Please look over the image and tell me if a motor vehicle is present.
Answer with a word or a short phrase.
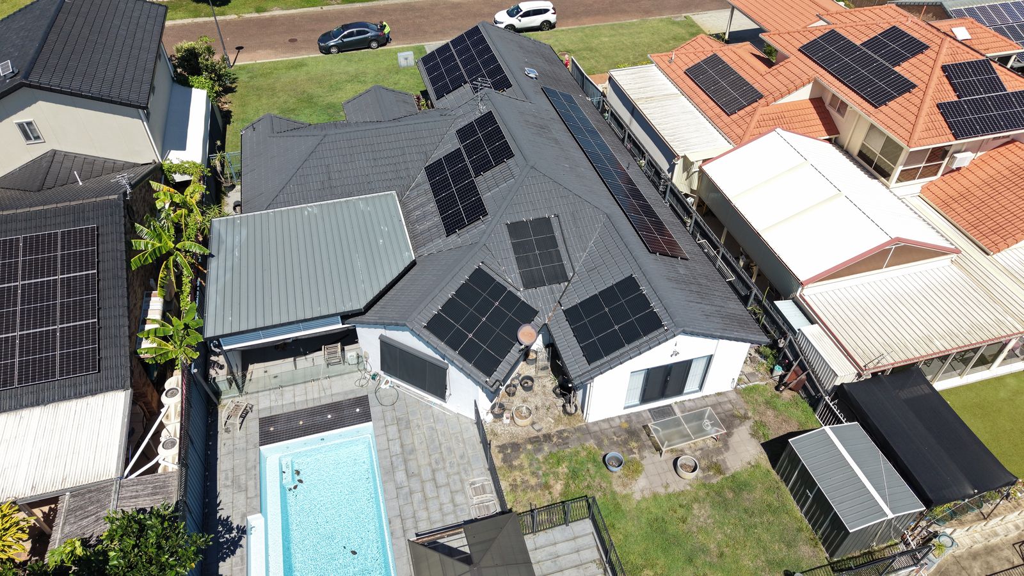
Yes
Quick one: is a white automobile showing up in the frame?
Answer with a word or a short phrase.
Yes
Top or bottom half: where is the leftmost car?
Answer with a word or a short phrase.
top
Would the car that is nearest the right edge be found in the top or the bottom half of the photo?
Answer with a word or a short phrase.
top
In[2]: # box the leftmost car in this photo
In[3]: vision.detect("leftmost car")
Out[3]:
[317,21,385,53]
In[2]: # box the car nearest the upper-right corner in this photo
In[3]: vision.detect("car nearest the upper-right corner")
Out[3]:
[493,0,557,32]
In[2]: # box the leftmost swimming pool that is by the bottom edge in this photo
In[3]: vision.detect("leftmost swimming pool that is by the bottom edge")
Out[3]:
[244,419,398,576]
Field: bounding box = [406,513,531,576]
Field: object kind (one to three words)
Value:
gazebo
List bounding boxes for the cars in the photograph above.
[493,0,557,32]
[317,21,385,53]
